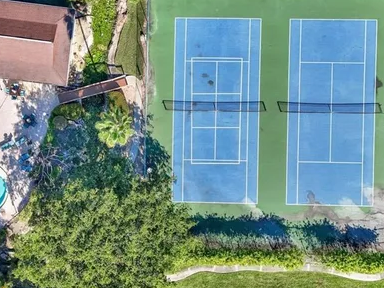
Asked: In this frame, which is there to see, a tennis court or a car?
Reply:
tennis court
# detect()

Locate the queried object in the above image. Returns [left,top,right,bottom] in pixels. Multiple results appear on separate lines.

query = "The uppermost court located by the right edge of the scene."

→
[287,19,376,206]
